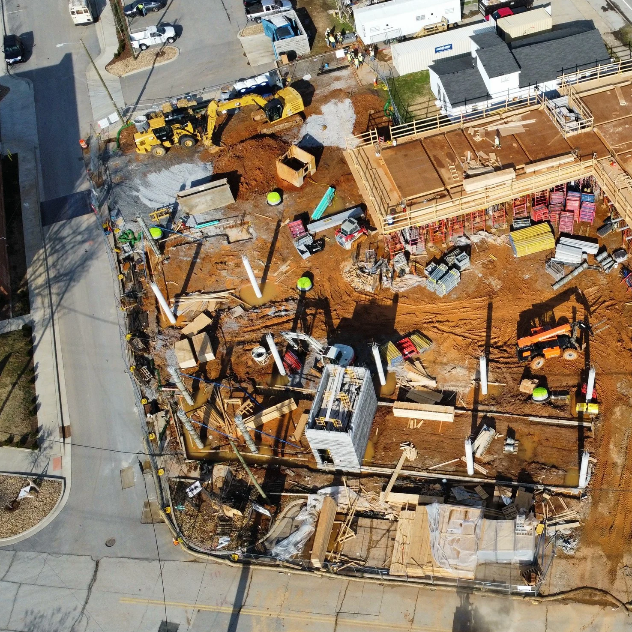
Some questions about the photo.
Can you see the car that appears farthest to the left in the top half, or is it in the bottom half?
top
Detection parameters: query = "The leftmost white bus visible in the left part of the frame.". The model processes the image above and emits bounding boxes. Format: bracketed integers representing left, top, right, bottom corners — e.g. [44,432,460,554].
[65,0,94,27]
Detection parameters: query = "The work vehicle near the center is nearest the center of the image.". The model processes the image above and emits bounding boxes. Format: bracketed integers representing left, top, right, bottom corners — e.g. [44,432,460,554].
[278,331,363,369]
